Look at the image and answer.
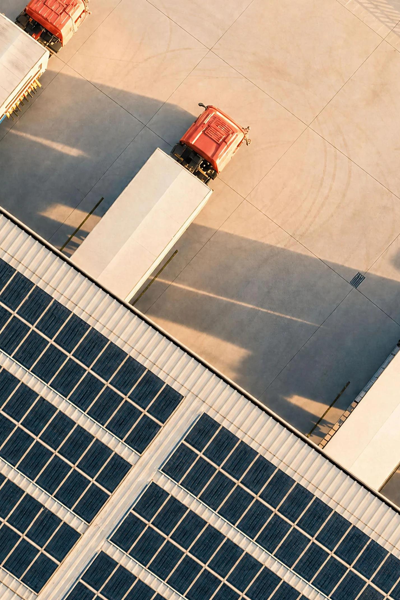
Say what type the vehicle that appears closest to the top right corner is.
truck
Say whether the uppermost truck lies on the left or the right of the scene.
left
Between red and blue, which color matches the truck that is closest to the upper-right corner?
red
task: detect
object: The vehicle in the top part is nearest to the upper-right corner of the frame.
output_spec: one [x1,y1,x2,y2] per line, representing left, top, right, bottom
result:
[167,99,256,194]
